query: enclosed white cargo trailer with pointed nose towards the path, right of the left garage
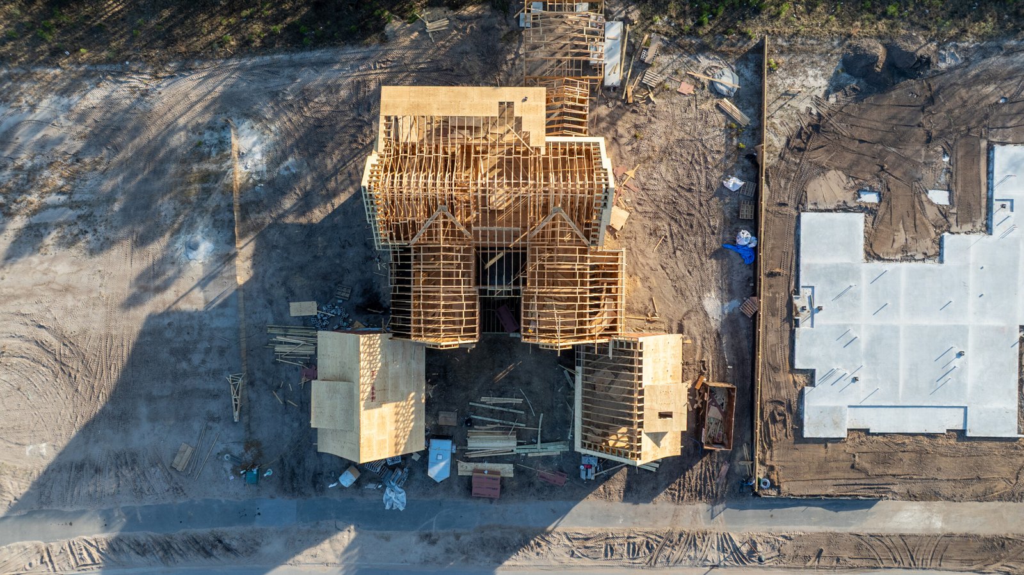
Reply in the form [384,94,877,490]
[428,432,456,485]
